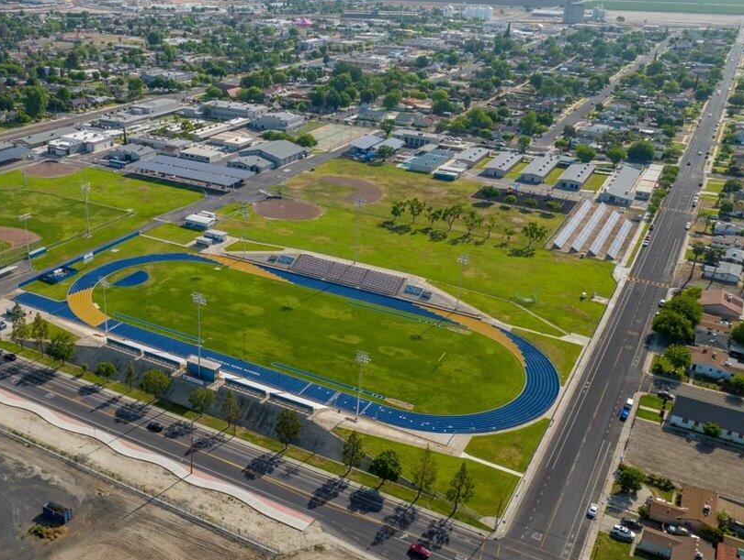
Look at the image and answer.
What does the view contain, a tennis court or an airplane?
tennis court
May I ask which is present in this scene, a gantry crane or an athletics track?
athletics track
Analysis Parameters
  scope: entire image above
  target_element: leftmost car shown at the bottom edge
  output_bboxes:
[406,541,431,559]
